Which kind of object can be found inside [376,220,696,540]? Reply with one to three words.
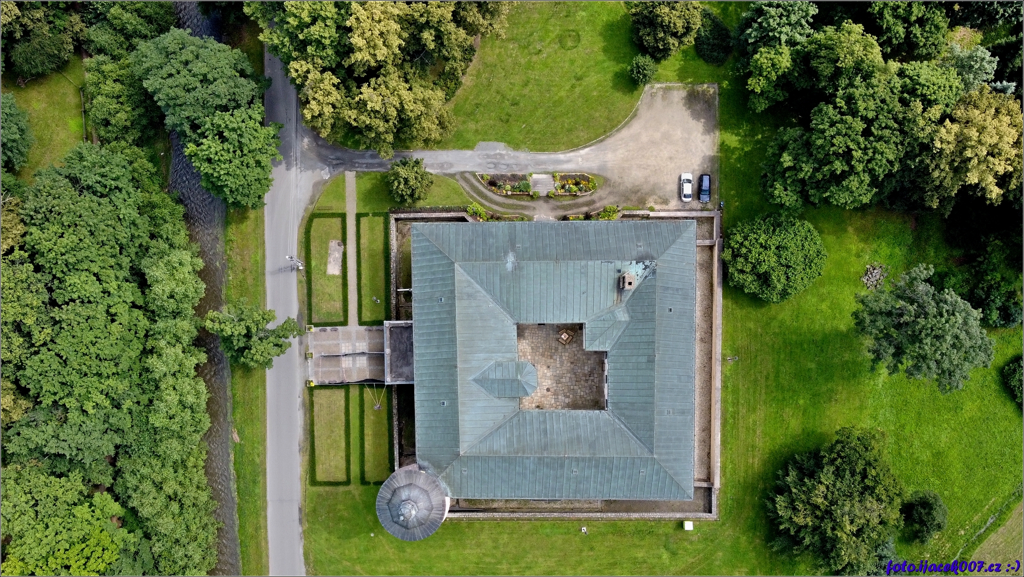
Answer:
building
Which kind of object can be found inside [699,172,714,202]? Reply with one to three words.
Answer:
car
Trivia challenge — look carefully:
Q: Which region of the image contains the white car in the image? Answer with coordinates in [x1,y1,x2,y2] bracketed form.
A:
[681,171,695,202]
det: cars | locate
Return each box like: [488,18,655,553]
[681,171,695,202]
[699,172,714,202]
